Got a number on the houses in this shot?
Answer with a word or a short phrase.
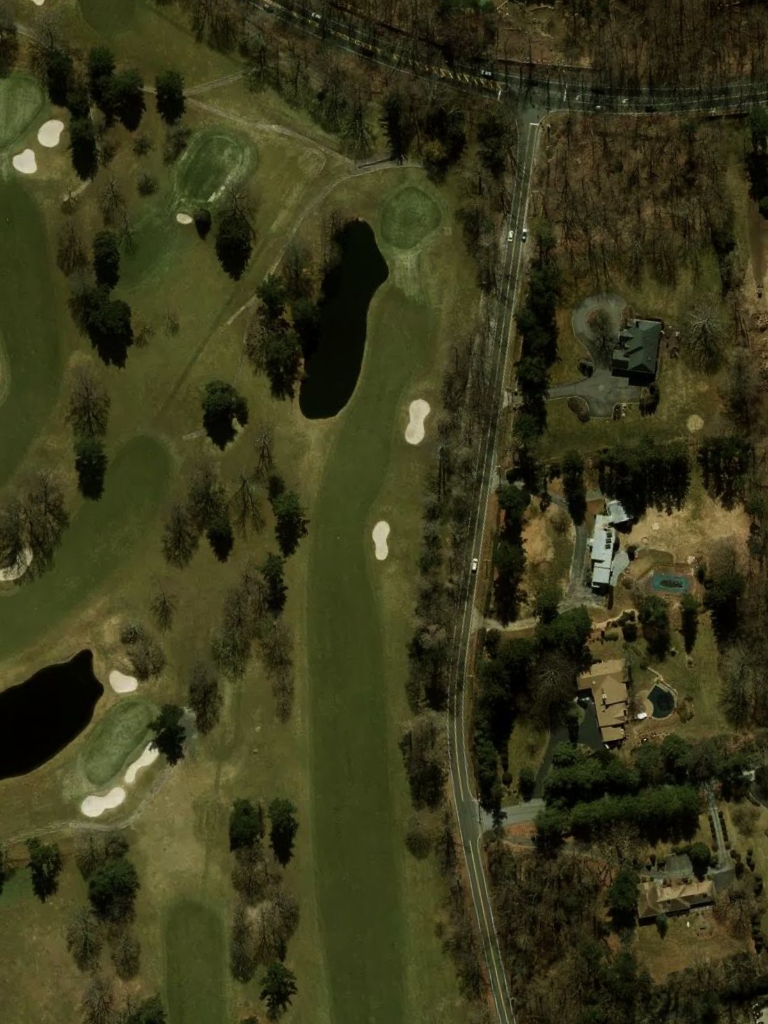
4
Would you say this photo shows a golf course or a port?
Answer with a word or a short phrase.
golf course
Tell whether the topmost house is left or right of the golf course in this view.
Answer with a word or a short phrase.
on its right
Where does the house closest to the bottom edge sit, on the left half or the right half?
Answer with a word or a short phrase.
right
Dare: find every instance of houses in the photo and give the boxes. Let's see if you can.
[612,318,662,373]
[579,660,629,742]
[638,879,716,919]
[587,501,630,586]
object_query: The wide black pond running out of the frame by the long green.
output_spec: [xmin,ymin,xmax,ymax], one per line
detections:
[0,650,104,779]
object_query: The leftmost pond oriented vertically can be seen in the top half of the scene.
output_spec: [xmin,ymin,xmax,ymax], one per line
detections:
[299,219,389,420]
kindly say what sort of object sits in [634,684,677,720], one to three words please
swimming pool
